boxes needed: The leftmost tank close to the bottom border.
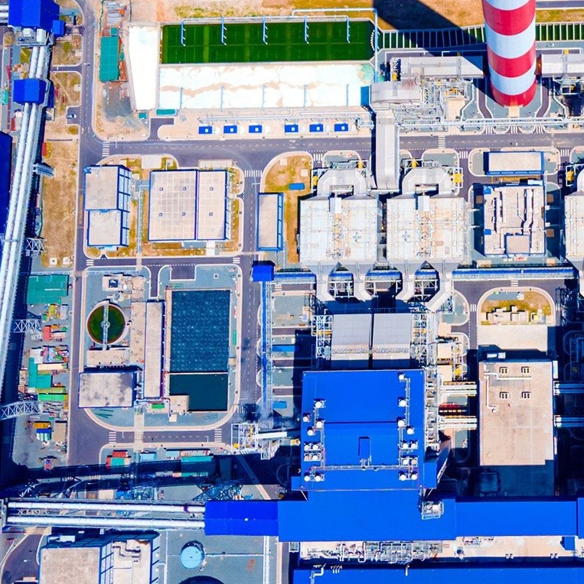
[179,541,208,571]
